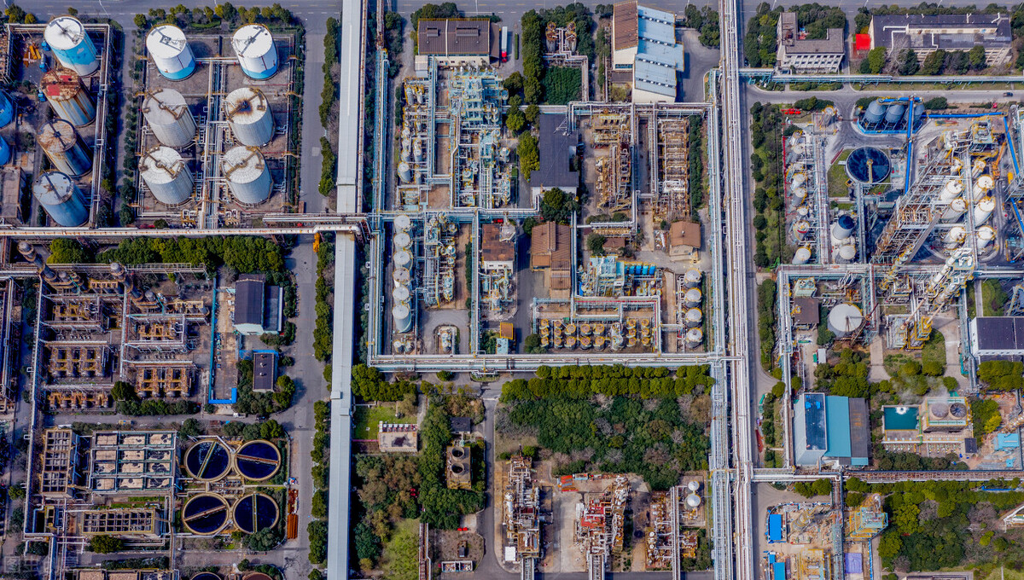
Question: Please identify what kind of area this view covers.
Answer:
industrial area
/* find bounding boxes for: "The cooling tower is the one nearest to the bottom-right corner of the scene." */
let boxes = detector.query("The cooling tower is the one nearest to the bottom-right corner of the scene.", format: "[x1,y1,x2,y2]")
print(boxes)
[921,396,968,432]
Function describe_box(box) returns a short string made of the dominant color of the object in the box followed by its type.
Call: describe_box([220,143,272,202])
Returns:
white storage tank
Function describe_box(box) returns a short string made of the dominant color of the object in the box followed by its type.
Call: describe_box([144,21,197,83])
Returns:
white storage tank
